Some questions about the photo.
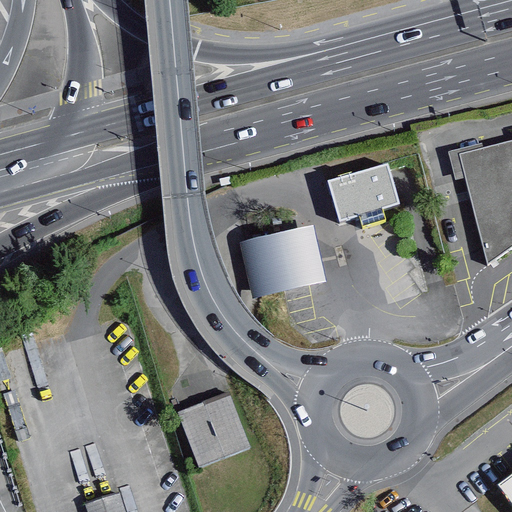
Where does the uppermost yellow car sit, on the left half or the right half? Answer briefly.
left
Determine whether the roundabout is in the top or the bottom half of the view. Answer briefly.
bottom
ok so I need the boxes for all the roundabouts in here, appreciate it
[288,340,464,512]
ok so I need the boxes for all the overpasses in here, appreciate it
[144,0,302,399]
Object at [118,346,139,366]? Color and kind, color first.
yellow car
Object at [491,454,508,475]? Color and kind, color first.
black car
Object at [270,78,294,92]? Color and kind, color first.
white vehicle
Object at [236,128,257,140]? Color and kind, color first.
white vehicle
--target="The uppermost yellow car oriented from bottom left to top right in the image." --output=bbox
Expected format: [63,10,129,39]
[106,322,128,342]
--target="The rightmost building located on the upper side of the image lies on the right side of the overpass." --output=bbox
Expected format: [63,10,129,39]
[448,140,512,267]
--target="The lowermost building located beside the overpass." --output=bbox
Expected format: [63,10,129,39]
[182,390,251,468]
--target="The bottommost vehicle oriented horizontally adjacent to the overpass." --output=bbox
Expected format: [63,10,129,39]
[301,354,327,366]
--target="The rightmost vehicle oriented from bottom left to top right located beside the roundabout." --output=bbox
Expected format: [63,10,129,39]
[466,328,486,345]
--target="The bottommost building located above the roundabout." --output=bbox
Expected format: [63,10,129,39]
[240,225,326,298]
